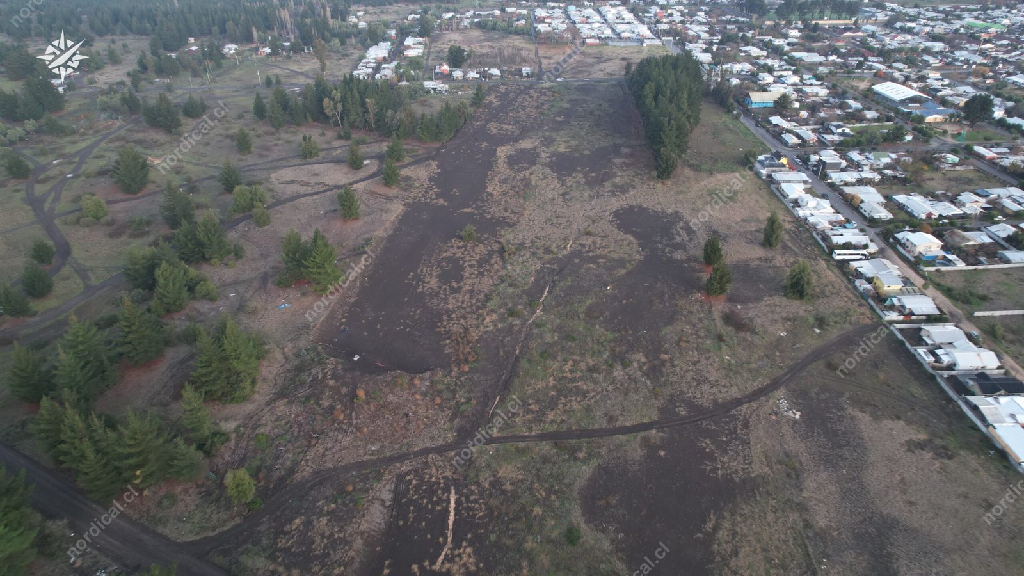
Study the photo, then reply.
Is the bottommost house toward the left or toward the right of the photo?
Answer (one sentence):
The bottommost house appears in the right half of the scene.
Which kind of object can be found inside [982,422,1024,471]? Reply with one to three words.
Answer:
house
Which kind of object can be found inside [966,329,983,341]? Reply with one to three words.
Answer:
vehicle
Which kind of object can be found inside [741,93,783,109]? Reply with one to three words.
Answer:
building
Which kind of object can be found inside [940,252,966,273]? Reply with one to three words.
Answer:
shed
